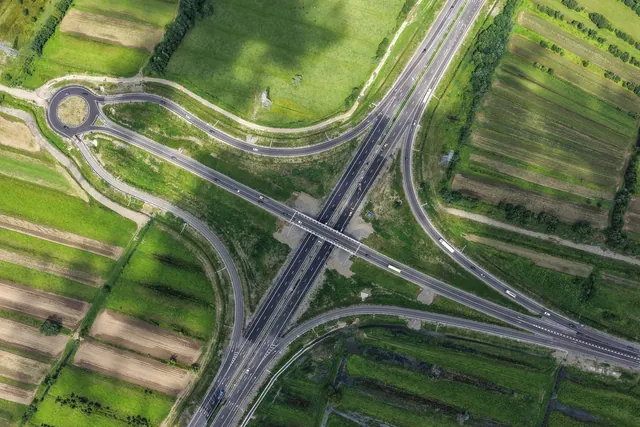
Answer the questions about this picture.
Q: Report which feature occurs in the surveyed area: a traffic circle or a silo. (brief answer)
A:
traffic circle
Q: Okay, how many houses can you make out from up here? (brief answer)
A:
none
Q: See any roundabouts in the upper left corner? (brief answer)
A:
Yes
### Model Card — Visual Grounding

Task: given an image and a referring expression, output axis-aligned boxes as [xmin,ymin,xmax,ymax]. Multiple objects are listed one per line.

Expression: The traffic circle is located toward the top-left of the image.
[46,85,98,137]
